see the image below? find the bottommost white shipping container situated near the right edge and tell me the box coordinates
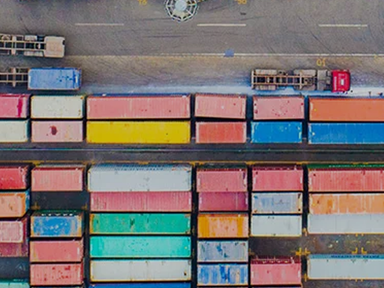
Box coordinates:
[308,253,384,279]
